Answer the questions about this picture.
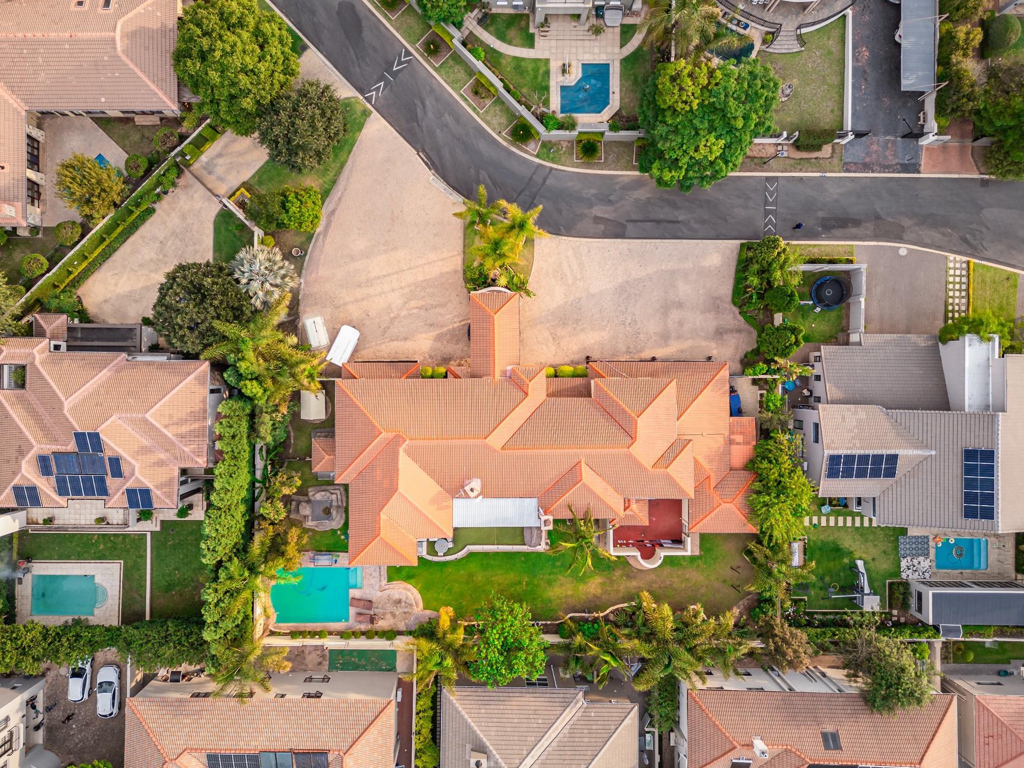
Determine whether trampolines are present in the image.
Yes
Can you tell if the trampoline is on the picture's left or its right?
right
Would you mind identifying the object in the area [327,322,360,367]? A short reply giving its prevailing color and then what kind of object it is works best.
white trailer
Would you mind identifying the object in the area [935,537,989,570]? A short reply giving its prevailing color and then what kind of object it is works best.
blue swimming pool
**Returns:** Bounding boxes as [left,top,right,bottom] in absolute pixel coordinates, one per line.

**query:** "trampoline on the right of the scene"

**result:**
[809,269,860,312]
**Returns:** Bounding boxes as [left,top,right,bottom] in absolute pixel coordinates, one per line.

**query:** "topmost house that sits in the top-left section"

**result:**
[0,0,199,227]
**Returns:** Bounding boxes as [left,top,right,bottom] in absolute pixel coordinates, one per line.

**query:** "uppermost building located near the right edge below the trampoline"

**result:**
[800,334,1024,534]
